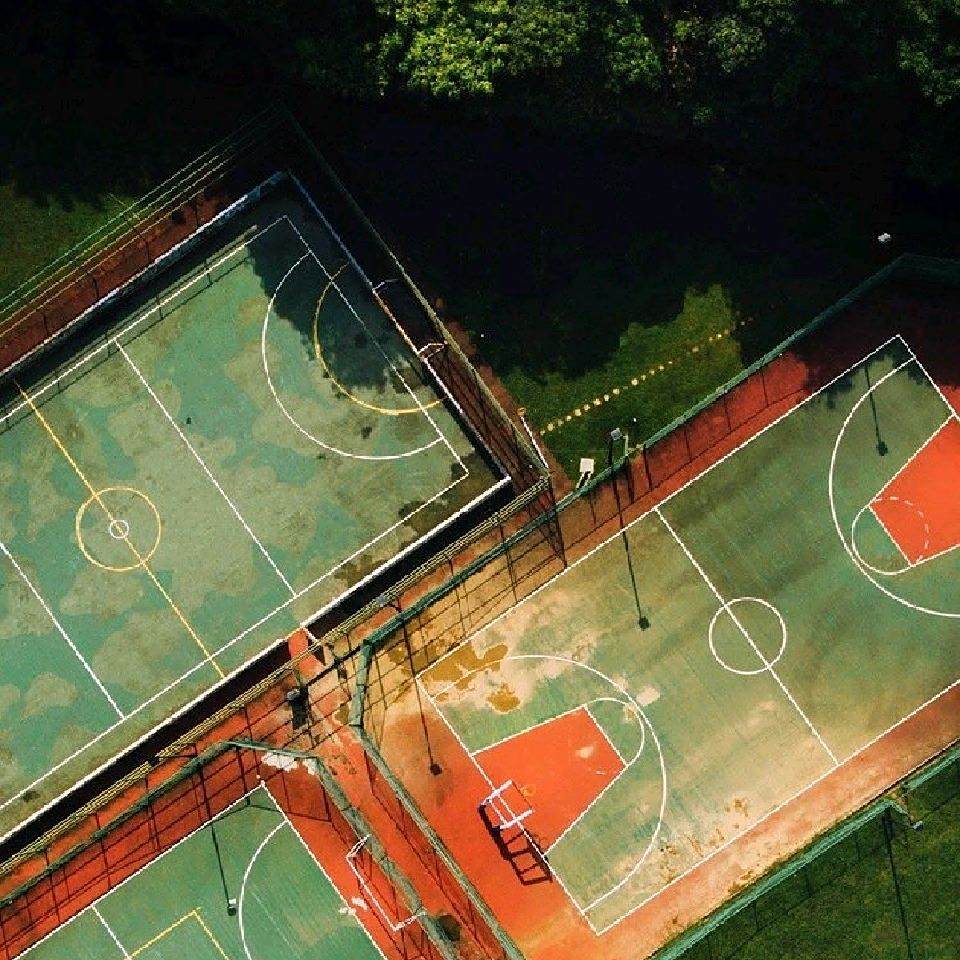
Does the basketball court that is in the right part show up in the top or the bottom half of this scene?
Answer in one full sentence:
The bottom half of the photo is where the basketball court that is in the right part is.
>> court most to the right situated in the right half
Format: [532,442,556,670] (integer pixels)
[419,336,960,935]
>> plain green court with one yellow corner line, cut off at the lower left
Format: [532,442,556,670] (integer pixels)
[12,782,388,960]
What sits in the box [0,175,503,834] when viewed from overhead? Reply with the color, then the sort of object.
green sports court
